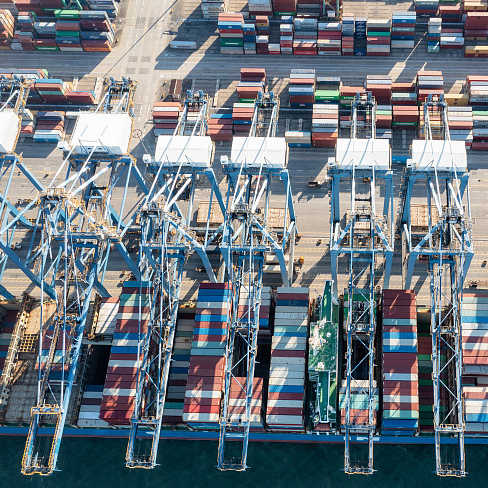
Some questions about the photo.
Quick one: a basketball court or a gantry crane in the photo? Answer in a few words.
gantry crane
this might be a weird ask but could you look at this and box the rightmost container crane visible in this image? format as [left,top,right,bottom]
[392,87,479,479]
